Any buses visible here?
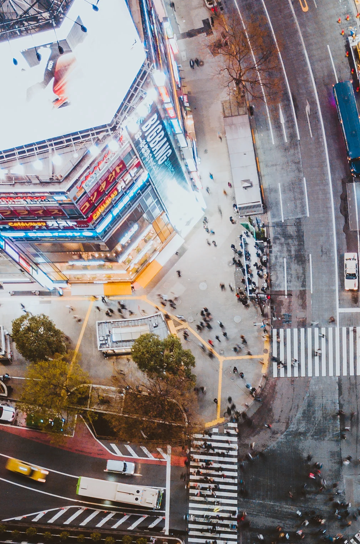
Yes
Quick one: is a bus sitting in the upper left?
No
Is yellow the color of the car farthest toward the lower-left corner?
Yes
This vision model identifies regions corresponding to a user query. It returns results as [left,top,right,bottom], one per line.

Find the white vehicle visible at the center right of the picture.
[344,253,359,291]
